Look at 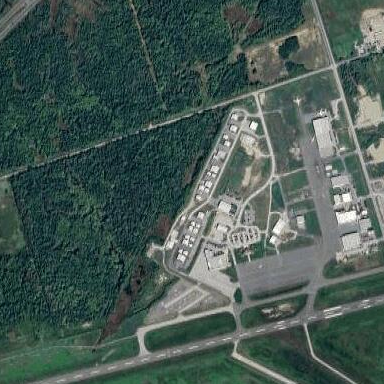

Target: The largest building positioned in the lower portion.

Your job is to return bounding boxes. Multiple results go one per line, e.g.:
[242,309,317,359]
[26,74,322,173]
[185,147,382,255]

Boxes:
[206,248,229,269]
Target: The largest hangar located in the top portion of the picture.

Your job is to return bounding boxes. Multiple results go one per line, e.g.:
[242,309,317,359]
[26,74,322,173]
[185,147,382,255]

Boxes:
[312,116,337,157]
